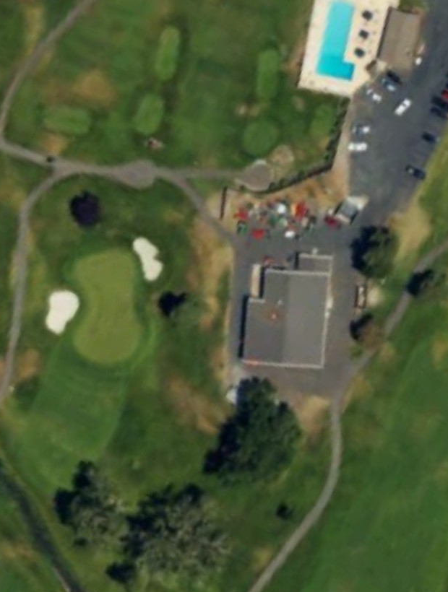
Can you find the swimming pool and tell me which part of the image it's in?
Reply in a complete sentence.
Look in the top right portion of the view to spot the swimming pool.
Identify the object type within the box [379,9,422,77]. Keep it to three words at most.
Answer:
building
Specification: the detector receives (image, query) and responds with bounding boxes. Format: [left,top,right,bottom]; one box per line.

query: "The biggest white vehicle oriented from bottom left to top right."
[395,98,412,115]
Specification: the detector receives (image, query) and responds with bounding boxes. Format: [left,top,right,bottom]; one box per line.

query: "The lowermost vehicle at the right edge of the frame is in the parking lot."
[404,165,427,179]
